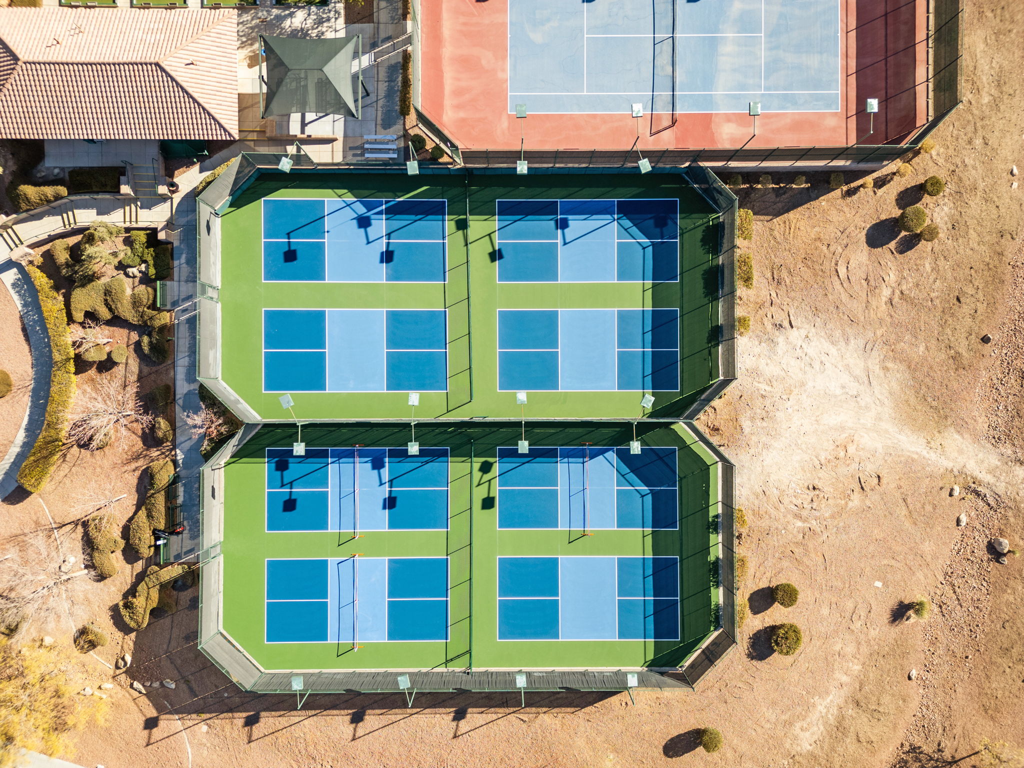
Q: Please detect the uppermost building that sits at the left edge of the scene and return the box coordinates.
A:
[0,4,239,140]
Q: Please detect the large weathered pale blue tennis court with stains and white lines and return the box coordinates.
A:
[508,0,840,112]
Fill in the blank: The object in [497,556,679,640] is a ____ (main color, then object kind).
blue sports court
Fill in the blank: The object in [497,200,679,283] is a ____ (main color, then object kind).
blue sports court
